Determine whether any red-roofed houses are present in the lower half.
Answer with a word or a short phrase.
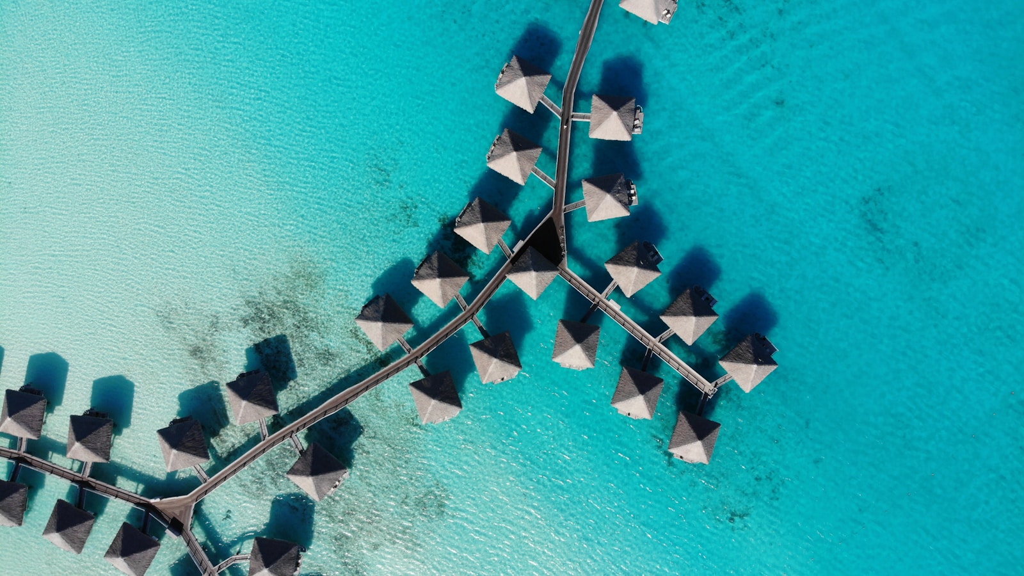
No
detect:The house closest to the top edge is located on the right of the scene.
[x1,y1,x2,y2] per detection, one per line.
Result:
[619,0,680,34]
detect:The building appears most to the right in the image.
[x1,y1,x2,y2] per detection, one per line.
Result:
[718,332,778,393]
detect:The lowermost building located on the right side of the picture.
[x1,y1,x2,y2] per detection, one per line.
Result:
[668,411,721,464]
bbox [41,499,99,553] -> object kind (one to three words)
house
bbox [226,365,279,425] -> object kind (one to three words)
house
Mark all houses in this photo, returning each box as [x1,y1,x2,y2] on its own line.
[287,442,349,502]
[410,370,462,425]
[495,55,553,113]
[668,411,721,464]
[552,319,601,371]
[605,241,664,297]
[582,173,639,222]
[66,406,117,462]
[660,286,719,346]
[619,0,680,34]
[248,537,307,576]
[0,479,35,525]
[41,499,99,553]
[0,385,54,439]
[589,94,644,142]
[226,365,279,425]
[104,523,162,576]
[355,293,413,351]
[611,365,665,419]
[454,197,512,254]
[157,411,210,472]
[411,251,469,308]
[469,331,522,387]
[718,332,778,393]
[486,128,543,184]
